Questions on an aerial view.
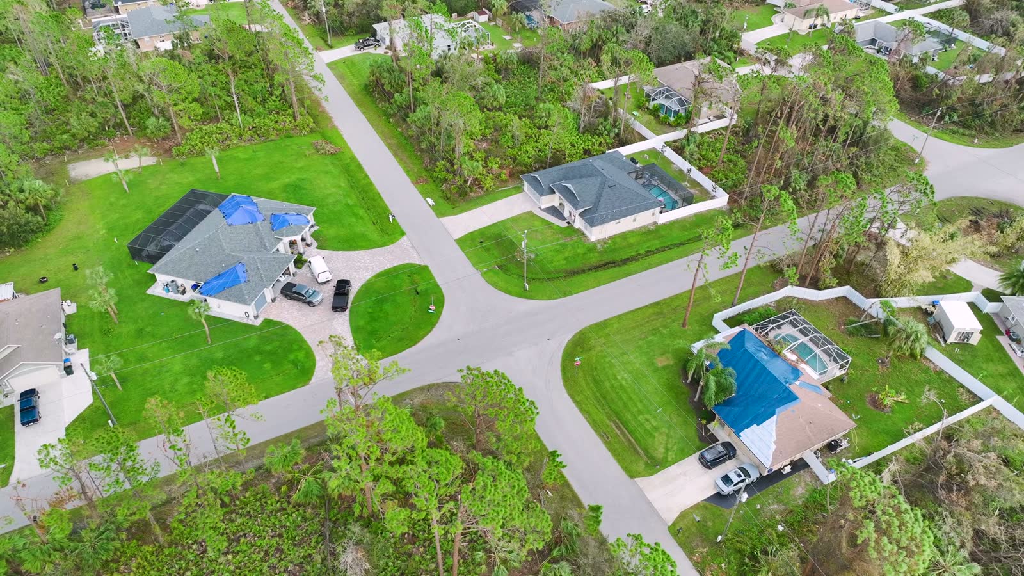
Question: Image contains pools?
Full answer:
Yes, a pool appears in the view.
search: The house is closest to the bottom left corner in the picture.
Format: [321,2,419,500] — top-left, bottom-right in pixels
[0,287,66,392]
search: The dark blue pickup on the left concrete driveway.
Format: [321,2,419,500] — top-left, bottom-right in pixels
[16,388,42,432]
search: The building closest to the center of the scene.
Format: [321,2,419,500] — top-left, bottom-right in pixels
[519,150,662,243]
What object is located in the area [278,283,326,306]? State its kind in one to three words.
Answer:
truck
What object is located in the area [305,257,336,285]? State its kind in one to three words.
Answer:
vehicle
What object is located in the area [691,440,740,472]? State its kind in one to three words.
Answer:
car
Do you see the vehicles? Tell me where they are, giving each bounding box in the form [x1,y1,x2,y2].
[709,465,763,495]
[278,283,326,306]
[305,257,336,285]
[16,388,42,432]
[691,440,740,472]
[331,280,352,313]
[354,39,377,51]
